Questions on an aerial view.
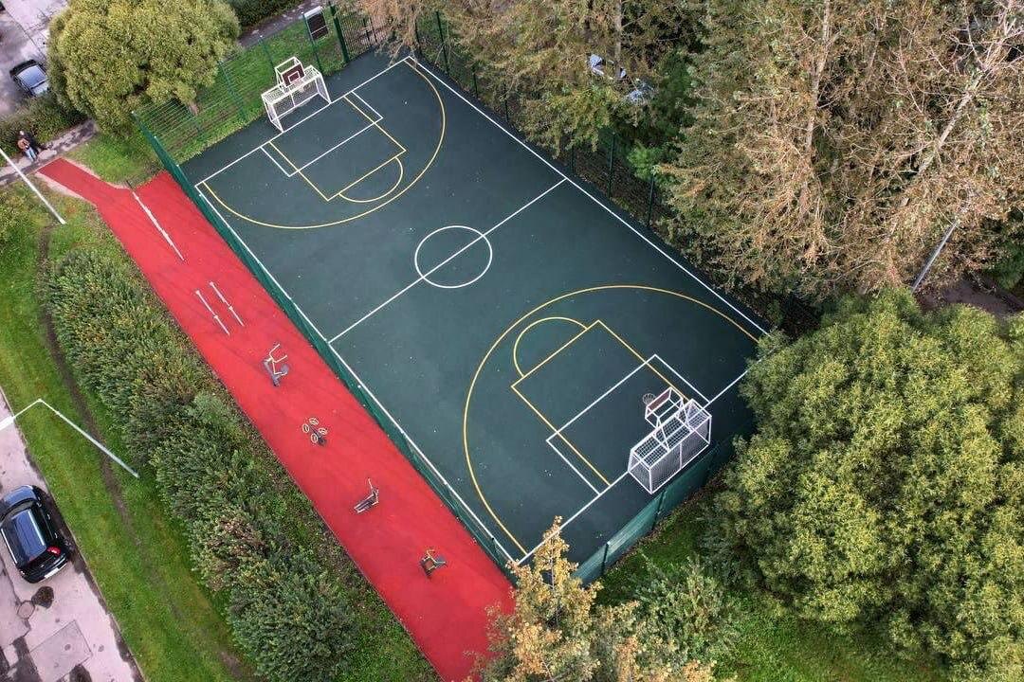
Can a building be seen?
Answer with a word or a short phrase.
No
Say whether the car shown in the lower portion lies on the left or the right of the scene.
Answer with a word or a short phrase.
left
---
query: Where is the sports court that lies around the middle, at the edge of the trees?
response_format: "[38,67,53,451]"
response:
[168,35,794,624]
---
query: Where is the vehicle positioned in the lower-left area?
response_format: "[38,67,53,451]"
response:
[0,488,70,587]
